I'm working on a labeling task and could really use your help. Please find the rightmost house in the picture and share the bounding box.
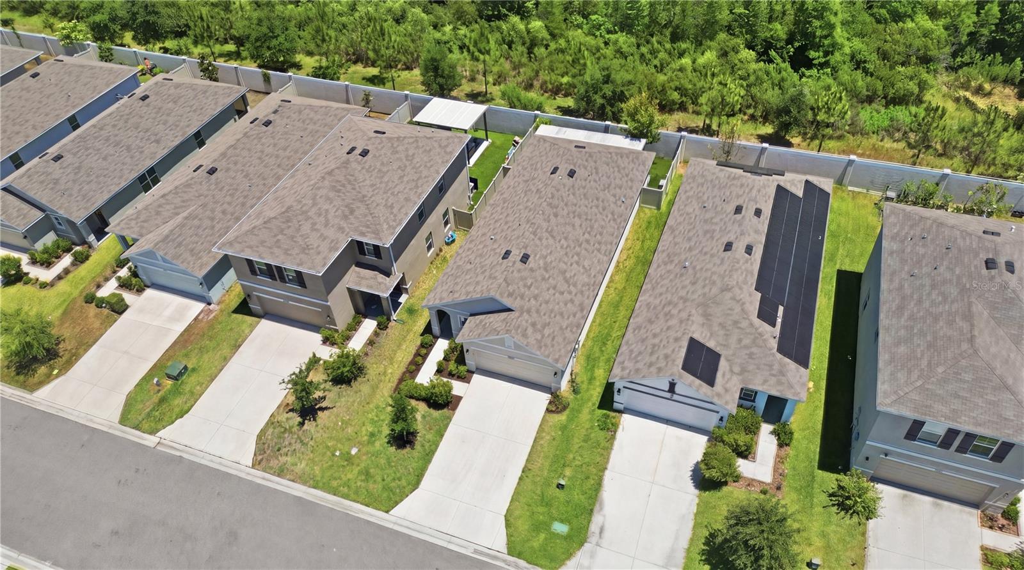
[859,202,1024,512]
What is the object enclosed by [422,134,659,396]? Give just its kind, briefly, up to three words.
house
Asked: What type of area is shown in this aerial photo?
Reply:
residential area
